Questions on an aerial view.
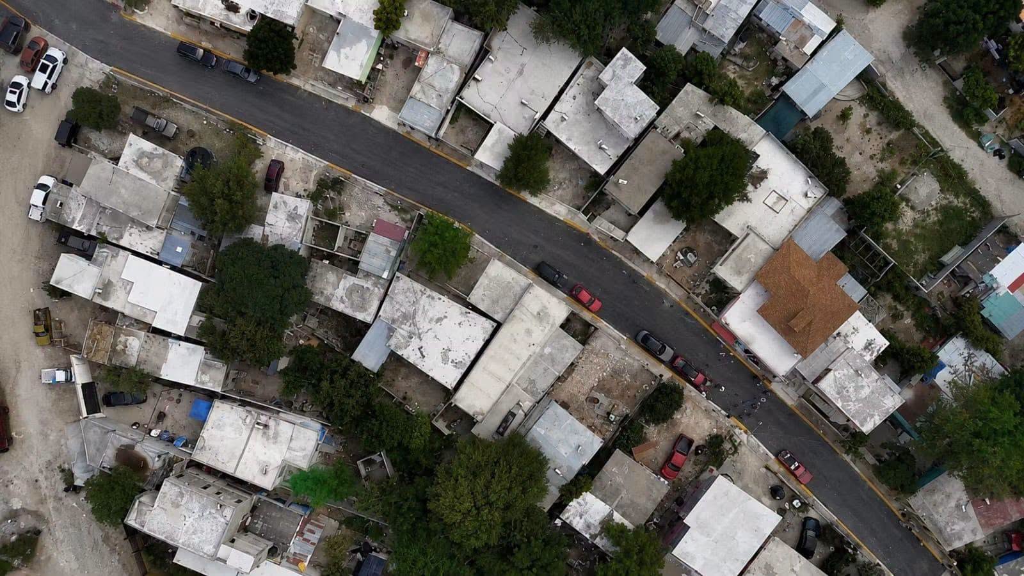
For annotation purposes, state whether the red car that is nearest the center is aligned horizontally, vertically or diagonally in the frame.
diagonally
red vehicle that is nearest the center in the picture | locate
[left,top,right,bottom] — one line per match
[567,282,603,313]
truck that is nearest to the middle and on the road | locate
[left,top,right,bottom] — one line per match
[532,258,569,289]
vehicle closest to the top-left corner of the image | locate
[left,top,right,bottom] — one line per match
[0,13,29,59]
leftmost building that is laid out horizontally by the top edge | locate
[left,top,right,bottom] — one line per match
[170,0,262,37]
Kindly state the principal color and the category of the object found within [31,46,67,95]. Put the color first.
white truck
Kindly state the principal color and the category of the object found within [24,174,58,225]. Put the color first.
white truck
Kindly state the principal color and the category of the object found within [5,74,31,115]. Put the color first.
white car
